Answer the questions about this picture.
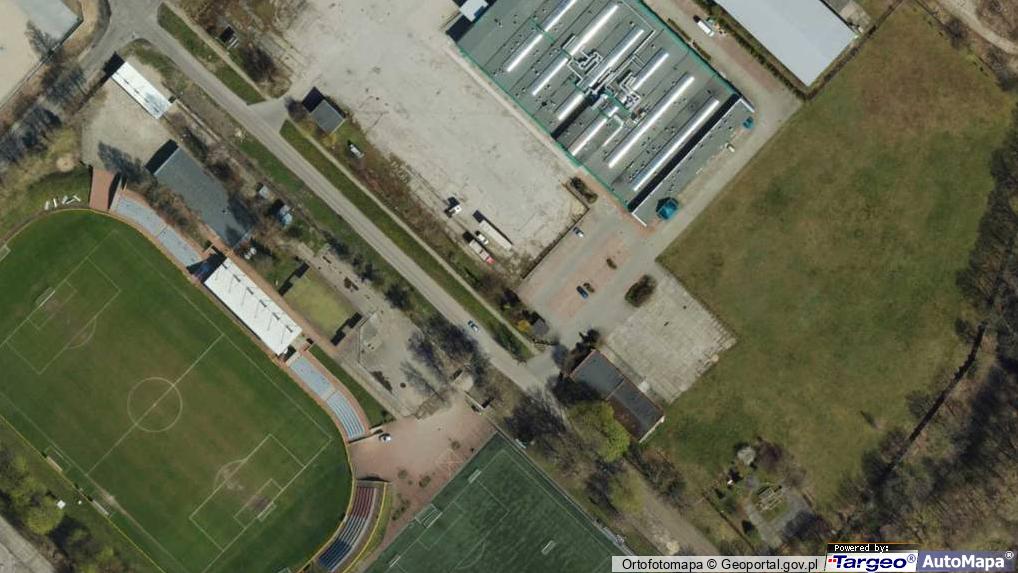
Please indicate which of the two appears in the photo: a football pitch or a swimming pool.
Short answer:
football pitch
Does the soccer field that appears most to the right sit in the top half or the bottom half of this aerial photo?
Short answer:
bottom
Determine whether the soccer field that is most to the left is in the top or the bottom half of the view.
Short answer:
bottom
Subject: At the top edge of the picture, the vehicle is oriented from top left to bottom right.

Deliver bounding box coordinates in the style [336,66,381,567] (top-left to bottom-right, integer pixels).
[698,19,713,35]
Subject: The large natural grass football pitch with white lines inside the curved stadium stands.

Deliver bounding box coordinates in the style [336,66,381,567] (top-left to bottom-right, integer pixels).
[0,209,351,573]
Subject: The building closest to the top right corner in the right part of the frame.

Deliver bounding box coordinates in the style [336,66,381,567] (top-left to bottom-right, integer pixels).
[714,0,858,86]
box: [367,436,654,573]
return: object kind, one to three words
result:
soccer field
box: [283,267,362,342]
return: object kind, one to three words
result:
sports court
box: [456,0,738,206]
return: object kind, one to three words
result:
building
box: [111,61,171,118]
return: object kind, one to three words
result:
shed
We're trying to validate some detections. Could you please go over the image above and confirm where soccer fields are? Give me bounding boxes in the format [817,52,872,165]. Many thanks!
[367,436,654,573]
[0,209,351,573]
